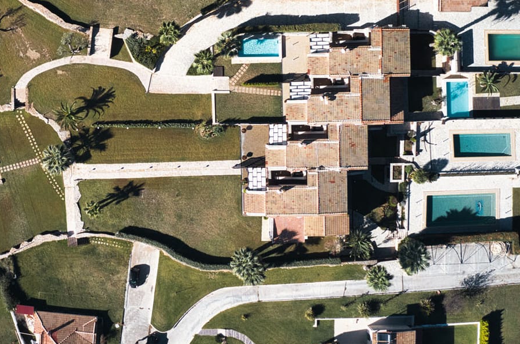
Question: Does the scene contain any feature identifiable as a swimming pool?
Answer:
Yes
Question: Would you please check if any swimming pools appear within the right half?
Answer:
Yes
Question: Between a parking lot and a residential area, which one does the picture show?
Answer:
residential area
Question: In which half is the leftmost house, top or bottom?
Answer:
bottom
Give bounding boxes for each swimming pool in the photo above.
[239,35,283,59]
[451,130,516,161]
[485,30,520,64]
[424,190,500,233]
[445,79,472,120]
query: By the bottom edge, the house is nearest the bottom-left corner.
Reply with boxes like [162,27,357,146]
[34,309,98,344]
